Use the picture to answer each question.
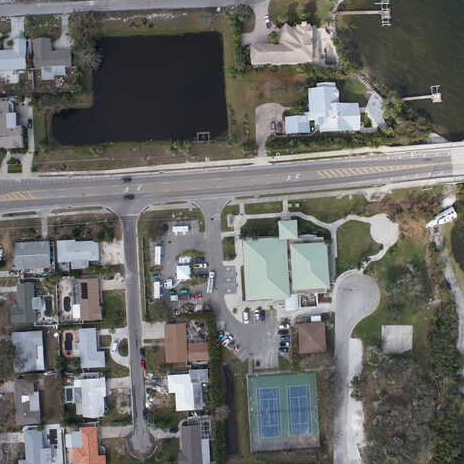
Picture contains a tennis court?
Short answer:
Yes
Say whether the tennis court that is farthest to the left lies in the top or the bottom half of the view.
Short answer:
bottom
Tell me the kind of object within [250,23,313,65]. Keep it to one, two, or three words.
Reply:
house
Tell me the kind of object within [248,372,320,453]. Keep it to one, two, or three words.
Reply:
tennis court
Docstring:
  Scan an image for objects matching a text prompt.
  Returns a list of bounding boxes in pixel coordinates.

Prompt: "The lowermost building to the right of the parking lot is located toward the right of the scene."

[297,321,326,354]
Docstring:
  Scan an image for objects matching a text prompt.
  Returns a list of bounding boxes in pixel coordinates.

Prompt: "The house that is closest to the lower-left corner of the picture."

[19,428,52,464]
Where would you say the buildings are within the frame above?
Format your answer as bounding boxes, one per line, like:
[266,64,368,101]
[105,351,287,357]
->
[166,323,208,363]
[33,38,73,80]
[75,377,107,417]
[168,369,208,410]
[16,379,40,425]
[57,241,99,270]
[0,38,27,83]
[0,101,24,148]
[309,82,361,132]
[12,331,45,372]
[243,238,290,300]
[10,283,43,323]
[65,426,107,464]
[19,428,52,464]
[297,321,326,354]
[291,234,329,293]
[73,279,102,320]
[250,23,313,65]
[15,241,51,269]
[80,328,106,368]
[181,425,210,464]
